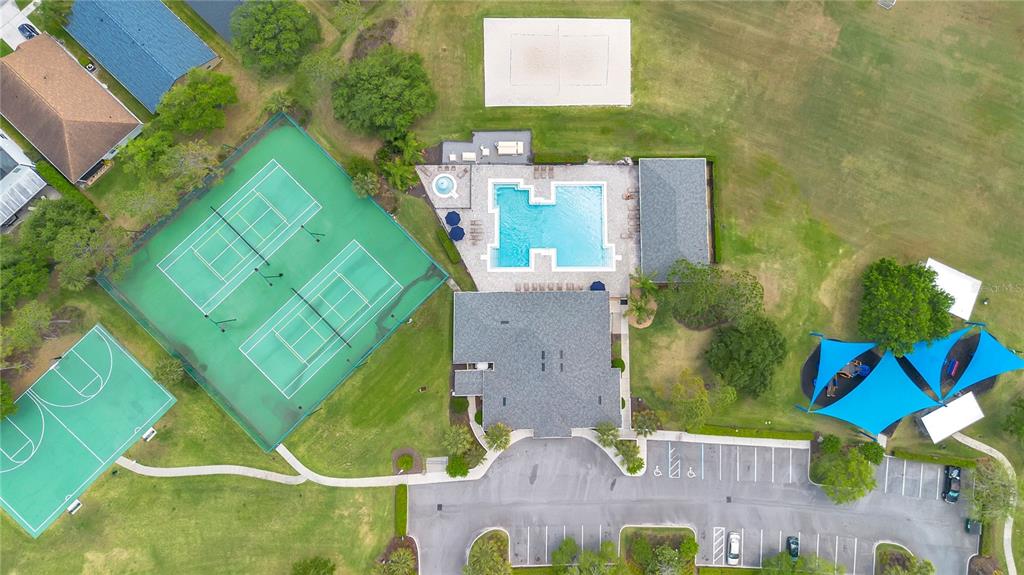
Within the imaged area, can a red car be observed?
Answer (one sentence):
No, the scene contains no red car.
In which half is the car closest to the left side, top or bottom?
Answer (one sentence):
The top half of the photo is where the car closest to the left side is.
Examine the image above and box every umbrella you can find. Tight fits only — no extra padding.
[590,279,605,292]
[449,226,464,241]
[445,211,461,226]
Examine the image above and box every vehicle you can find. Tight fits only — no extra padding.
[942,465,962,502]
[15,17,43,40]
[726,531,742,563]
[784,535,799,563]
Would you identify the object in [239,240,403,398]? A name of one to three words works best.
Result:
tennis court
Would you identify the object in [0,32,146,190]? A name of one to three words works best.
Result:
house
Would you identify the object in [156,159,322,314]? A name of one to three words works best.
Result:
tennis court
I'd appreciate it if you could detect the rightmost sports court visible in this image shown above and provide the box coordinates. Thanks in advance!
[484,18,632,106]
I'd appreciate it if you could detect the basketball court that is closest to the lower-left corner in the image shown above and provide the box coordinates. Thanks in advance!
[0,324,176,539]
